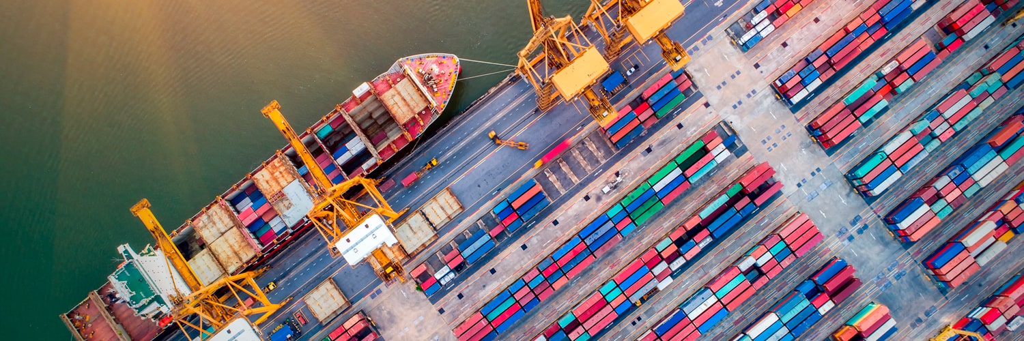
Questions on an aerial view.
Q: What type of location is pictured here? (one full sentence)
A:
It's a port.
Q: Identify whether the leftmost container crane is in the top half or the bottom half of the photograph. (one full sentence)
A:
You can find the leftmost container crane in the bottom half.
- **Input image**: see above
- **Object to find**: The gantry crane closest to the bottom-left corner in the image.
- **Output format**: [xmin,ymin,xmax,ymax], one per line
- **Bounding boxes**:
[124,208,299,341]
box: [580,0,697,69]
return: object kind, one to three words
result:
container crane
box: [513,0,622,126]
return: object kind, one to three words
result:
container crane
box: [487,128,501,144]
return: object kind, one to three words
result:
vehicle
